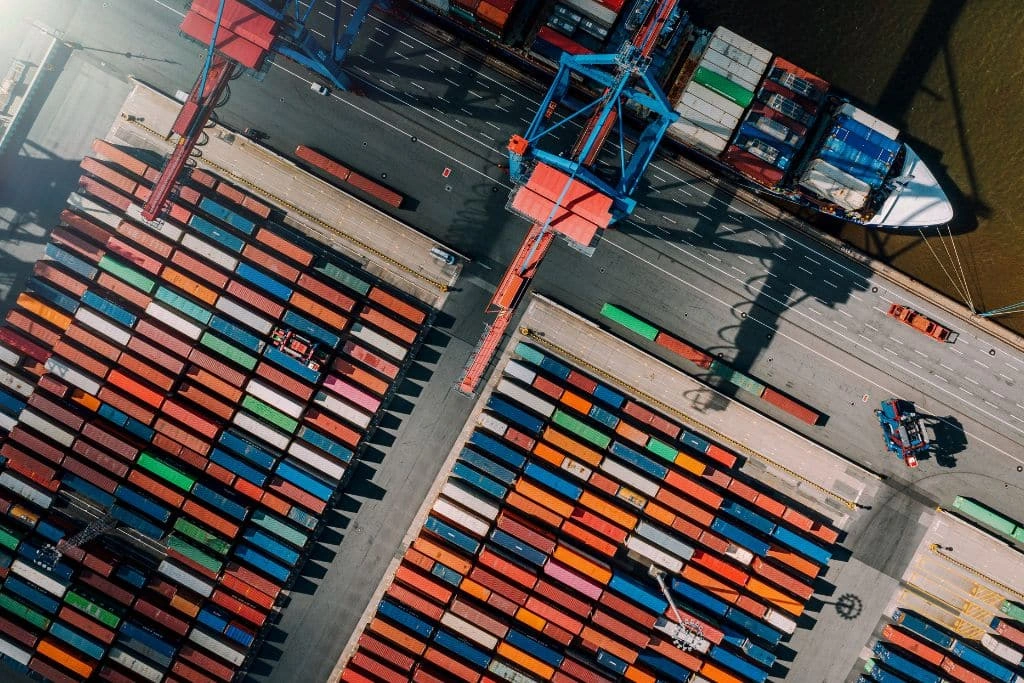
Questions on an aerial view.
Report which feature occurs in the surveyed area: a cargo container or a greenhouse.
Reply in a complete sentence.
I can see a cargo container in this picture.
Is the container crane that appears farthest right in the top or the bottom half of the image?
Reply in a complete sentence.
The top half of the photo is where the container crane that appears farthest right is.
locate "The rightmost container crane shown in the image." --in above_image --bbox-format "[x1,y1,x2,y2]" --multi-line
[453,0,695,398]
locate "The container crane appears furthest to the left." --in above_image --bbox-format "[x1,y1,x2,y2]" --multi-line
[135,0,417,230]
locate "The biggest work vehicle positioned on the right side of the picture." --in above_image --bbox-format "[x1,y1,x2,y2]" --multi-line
[877,398,938,466]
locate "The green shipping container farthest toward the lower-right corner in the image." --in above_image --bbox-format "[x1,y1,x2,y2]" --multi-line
[996,597,1024,623]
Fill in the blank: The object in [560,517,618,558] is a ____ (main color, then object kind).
red shipping container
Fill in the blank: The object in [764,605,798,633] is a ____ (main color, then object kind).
white shipping container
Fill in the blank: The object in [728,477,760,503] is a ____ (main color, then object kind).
red shipping container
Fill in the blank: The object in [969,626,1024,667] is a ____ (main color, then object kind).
white shipping container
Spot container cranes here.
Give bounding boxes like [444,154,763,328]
[453,0,695,398]
[135,0,417,230]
